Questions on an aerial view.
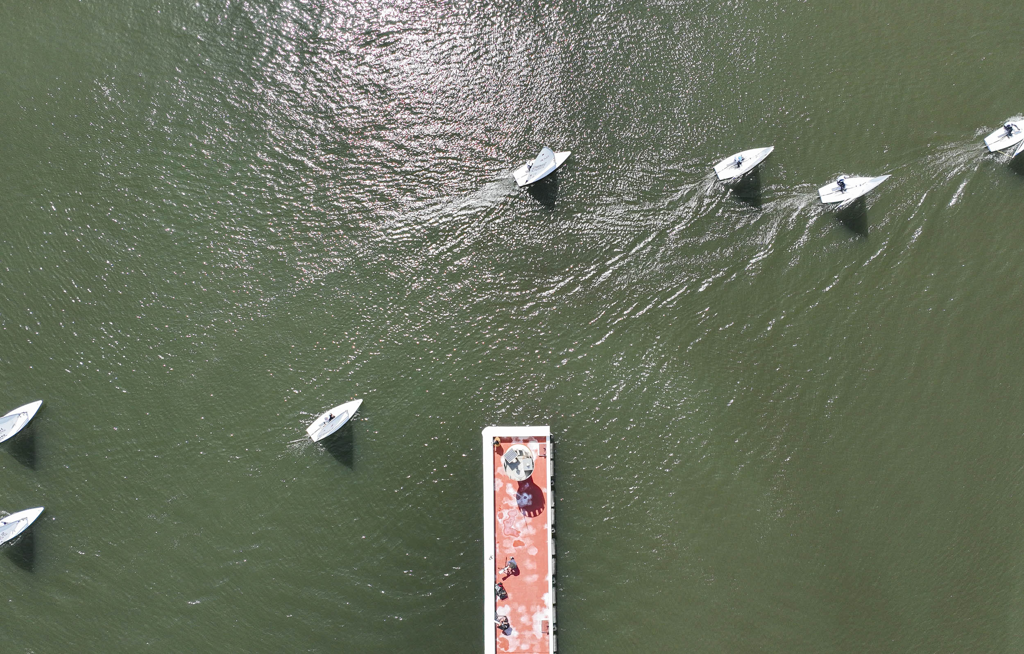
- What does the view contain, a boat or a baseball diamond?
boat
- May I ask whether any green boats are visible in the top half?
No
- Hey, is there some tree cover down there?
No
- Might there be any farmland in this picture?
No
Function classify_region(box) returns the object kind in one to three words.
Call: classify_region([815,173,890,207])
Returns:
boat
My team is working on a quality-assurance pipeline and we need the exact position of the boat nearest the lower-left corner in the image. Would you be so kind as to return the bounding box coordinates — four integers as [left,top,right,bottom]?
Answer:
[0,507,46,547]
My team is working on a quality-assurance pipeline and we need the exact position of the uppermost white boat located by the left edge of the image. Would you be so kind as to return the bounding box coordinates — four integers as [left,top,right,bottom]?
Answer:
[0,400,44,442]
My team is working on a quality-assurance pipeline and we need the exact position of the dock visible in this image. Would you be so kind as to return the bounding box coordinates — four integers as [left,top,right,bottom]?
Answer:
[482,426,554,654]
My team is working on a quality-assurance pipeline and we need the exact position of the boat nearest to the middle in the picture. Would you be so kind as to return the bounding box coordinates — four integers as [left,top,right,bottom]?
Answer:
[513,142,571,186]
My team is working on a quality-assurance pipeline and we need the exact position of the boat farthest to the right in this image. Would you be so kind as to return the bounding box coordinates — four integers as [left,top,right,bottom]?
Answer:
[982,116,1024,157]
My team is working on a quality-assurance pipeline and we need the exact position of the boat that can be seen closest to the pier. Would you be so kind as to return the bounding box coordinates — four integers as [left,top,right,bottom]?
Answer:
[307,400,362,442]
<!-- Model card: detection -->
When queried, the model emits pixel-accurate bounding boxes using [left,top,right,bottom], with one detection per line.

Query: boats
[815,173,890,207]
[0,507,46,547]
[982,116,1024,157]
[307,400,362,442]
[513,142,571,186]
[0,400,44,442]
[712,142,774,180]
